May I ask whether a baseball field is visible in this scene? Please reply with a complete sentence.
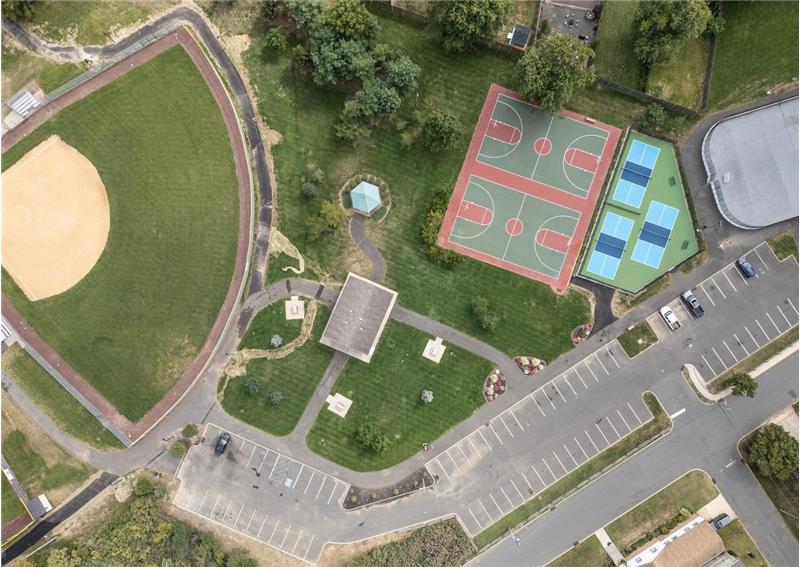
Yes, the image includes a baseball field.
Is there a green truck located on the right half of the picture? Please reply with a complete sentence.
No, the scene shows no green truck on the right half of the picture.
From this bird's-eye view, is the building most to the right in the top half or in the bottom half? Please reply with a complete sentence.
The top half of the photo is where the building most to the right is.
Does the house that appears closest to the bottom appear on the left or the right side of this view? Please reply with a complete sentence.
You can find the house that appears closest to the bottom on the right side of the picture.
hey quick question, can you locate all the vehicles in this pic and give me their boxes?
[681,290,704,317]
[659,304,682,331]
[710,512,734,528]
[737,257,755,279]
[215,431,230,455]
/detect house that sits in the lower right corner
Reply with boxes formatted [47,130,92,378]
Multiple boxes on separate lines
[625,517,730,567]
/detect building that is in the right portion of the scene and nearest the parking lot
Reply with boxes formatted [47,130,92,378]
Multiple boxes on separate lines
[701,93,800,230]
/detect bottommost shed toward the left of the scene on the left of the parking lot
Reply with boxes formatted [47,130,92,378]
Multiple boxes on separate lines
[24,492,55,519]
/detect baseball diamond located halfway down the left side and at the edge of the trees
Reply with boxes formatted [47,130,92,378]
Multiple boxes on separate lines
[0,26,252,446]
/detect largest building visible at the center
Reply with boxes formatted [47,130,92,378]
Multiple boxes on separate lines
[320,273,398,362]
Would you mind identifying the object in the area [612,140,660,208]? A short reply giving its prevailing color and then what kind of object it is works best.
blue sports court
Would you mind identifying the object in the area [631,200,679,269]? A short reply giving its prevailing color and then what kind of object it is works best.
blue sports court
